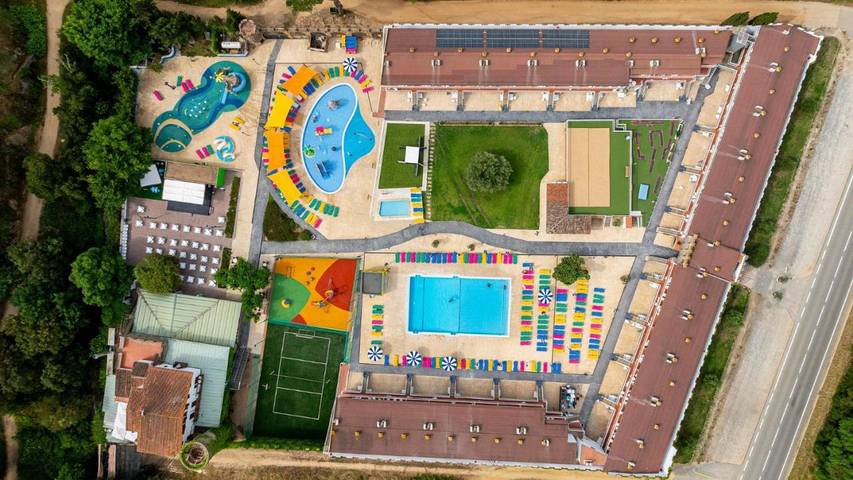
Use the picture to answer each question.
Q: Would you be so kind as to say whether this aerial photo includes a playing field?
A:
Yes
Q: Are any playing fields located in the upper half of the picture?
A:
No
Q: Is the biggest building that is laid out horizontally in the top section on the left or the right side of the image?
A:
right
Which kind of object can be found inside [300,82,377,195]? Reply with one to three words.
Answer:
swimming pool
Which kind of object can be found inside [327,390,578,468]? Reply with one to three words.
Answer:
building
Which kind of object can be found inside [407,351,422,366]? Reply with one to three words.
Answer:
umbrella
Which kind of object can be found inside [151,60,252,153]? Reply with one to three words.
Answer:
swimming pool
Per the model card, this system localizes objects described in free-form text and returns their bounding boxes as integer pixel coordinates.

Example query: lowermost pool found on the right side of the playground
[406,274,512,338]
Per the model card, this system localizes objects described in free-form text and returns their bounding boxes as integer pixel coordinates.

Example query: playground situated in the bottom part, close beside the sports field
[269,258,357,331]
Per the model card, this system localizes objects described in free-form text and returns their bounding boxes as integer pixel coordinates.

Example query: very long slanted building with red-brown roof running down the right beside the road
[600,22,826,478]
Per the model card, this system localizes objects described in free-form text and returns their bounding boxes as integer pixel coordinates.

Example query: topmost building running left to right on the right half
[380,24,734,93]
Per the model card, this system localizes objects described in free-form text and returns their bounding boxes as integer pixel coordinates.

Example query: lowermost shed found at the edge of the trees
[116,444,149,480]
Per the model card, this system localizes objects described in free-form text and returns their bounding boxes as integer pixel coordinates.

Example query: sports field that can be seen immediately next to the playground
[253,322,347,441]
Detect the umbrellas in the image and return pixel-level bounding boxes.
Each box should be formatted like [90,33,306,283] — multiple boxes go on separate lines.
[441,356,456,371]
[368,346,382,361]
[538,288,552,303]
[407,351,422,366]
[343,58,358,72]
